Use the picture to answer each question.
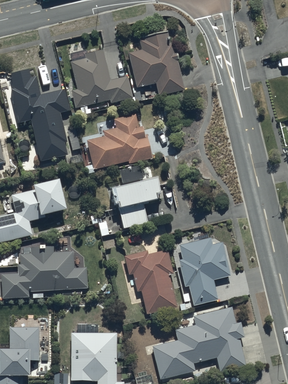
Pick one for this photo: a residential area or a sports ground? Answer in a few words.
residential area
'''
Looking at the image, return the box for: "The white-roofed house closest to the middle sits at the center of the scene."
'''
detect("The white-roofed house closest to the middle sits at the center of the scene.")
[110,176,162,229]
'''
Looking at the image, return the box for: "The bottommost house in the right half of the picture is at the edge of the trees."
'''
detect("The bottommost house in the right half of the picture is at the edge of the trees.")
[153,307,247,381]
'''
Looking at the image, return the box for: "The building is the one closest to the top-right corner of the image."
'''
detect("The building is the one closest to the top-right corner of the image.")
[129,31,183,94]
